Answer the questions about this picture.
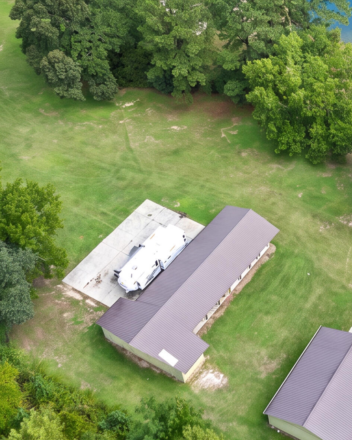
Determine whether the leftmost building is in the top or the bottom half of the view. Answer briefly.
bottom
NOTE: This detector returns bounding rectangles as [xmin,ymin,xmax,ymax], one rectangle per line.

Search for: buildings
[95,204,280,382]
[262,325,352,440]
